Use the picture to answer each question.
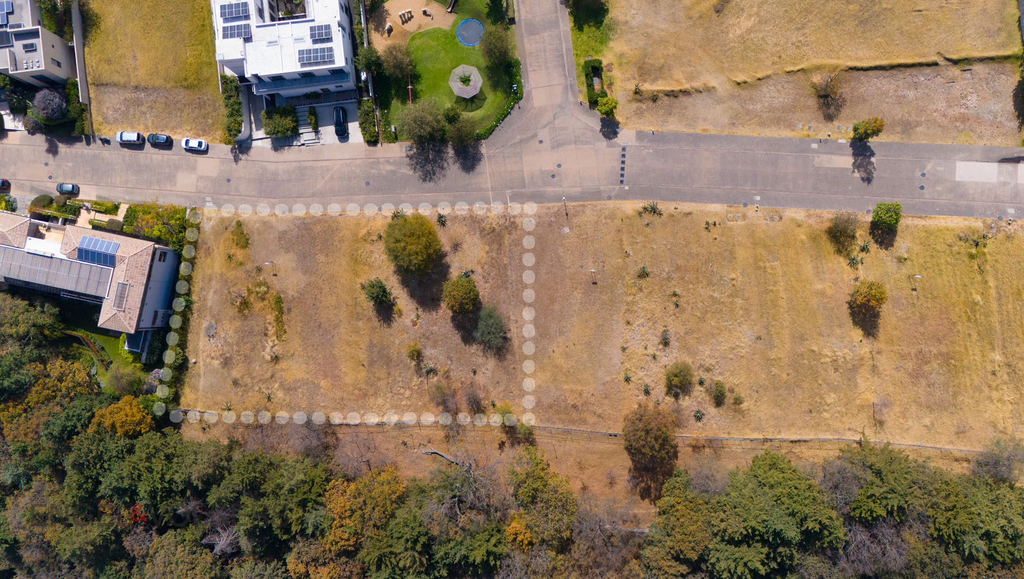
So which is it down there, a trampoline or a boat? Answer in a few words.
trampoline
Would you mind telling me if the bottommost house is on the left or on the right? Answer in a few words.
left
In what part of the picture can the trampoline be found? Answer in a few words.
top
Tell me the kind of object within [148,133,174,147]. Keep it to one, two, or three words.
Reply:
car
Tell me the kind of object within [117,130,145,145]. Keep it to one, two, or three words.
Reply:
car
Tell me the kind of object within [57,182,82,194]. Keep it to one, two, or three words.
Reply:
vehicle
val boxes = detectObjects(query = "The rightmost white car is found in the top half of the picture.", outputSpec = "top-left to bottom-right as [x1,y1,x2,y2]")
[181,137,209,151]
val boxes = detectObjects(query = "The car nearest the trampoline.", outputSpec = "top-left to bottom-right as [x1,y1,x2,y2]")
[334,107,348,136]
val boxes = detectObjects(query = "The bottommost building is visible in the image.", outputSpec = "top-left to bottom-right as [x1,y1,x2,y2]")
[0,212,174,362]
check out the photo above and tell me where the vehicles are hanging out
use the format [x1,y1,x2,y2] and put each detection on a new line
[148,133,174,147]
[334,107,348,136]
[181,137,209,151]
[0,179,13,190]
[117,130,145,145]
[57,182,82,194]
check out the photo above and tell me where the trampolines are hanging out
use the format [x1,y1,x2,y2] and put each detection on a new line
[456,18,484,46]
